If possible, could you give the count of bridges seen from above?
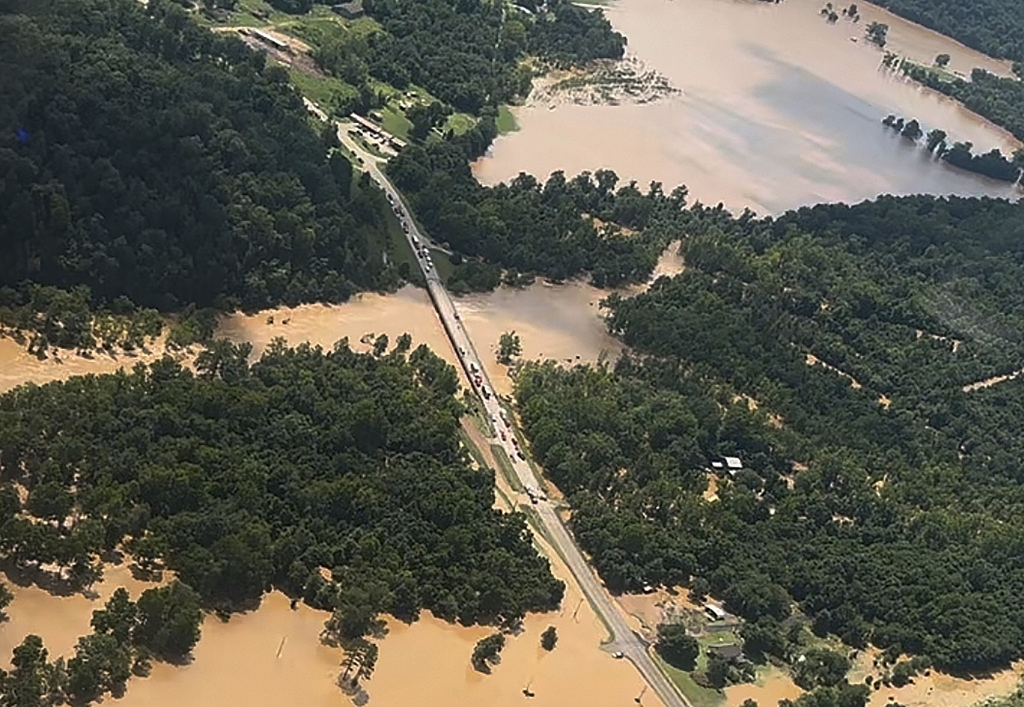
1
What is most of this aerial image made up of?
trees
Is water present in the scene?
Yes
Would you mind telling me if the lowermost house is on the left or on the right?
right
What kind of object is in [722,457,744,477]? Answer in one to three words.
building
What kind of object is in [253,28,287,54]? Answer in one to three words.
barn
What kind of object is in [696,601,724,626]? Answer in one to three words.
house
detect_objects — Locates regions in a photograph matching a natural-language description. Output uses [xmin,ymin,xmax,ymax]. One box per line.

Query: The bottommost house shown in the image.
[700,642,744,672]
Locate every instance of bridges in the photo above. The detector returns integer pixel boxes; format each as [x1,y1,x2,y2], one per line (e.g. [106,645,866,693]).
[422,273,504,401]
